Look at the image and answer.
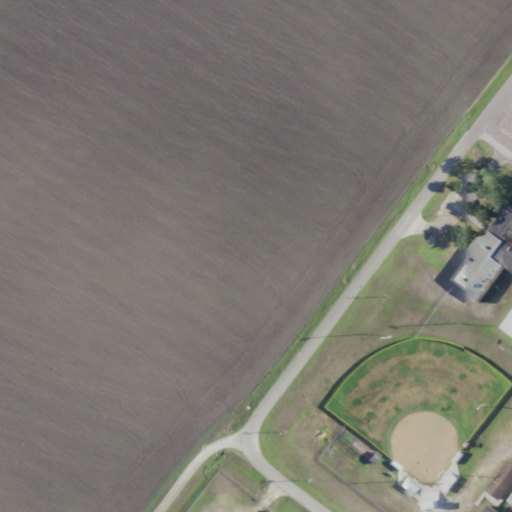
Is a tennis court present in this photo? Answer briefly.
No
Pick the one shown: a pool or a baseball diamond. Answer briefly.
baseball diamond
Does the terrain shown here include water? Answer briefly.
No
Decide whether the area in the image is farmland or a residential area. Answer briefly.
farmland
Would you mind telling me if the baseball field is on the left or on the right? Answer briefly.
right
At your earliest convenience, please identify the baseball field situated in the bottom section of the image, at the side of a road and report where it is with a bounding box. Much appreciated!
[326,338,511,484]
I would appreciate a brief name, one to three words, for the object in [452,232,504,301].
building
